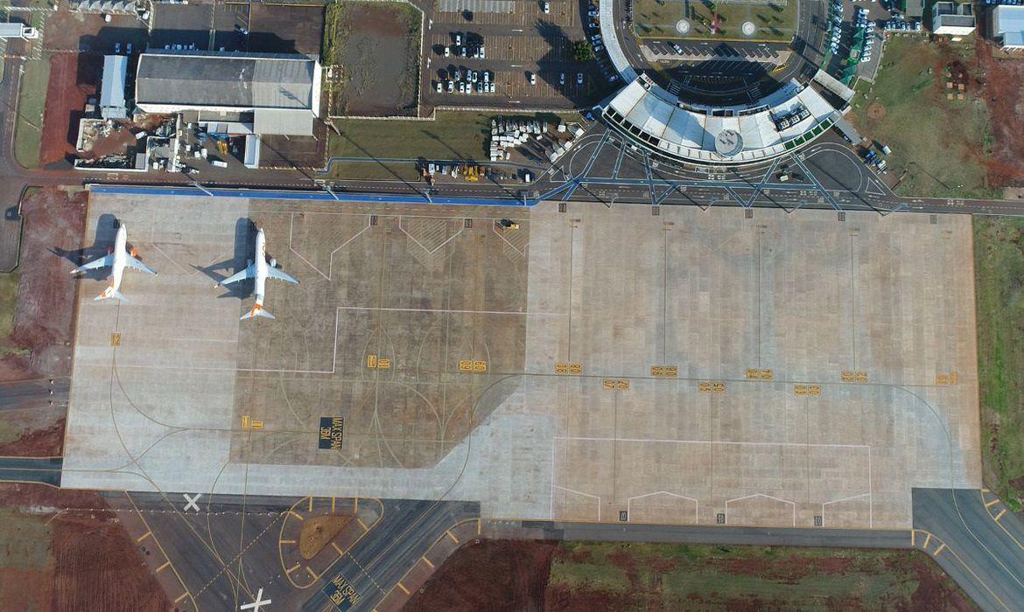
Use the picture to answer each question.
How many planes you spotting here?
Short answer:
2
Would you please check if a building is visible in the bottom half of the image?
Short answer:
No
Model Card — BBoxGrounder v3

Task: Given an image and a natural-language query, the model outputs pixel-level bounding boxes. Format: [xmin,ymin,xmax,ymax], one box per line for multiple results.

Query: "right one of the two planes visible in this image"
[216,228,299,314]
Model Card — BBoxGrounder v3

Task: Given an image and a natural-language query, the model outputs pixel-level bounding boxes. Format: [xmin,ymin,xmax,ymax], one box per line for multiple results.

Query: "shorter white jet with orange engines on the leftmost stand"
[73,224,156,297]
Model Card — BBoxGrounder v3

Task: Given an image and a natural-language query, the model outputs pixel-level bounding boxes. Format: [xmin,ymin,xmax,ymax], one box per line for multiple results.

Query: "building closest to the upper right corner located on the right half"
[994,6,1024,50]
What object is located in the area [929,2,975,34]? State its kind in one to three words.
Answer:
building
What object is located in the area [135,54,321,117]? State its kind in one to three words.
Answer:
hangar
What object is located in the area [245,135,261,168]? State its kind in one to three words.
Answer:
building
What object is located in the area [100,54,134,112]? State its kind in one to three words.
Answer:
shed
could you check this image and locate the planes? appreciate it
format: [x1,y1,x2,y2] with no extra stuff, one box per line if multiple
[216,228,299,314]
[73,224,156,297]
